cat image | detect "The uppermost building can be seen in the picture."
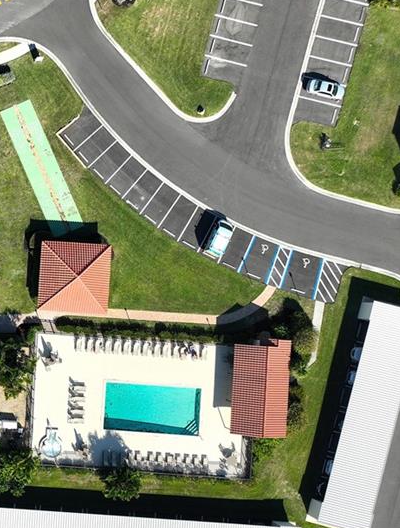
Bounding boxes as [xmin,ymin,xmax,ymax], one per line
[36,240,112,315]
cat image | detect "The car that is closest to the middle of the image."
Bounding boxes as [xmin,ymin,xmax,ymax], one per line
[205,219,235,258]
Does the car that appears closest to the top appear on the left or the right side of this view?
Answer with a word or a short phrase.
right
